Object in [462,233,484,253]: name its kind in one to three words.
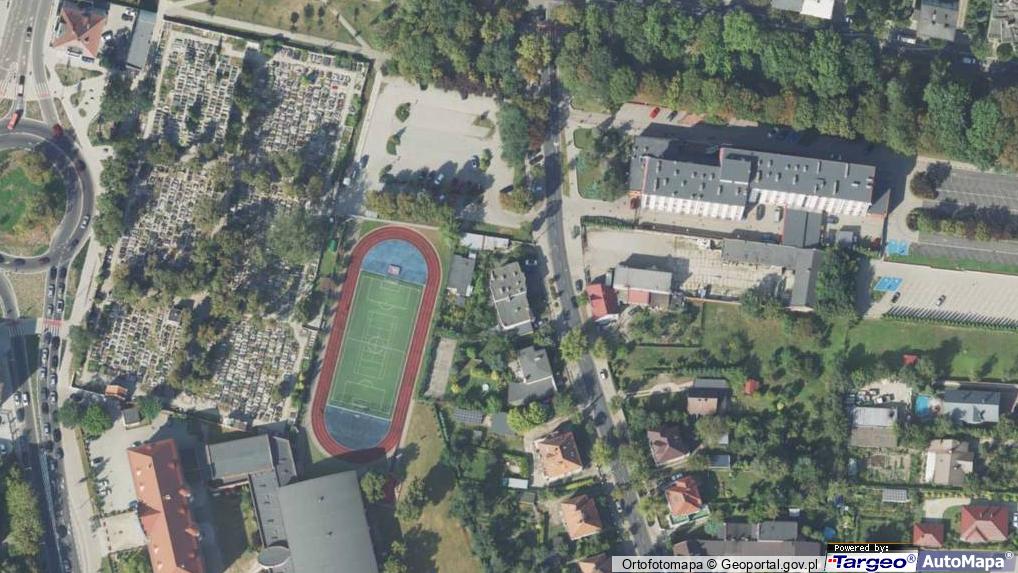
shed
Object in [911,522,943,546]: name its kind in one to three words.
building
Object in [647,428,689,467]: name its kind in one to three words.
house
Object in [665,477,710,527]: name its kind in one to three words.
house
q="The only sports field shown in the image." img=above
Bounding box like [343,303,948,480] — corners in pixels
[328,270,424,422]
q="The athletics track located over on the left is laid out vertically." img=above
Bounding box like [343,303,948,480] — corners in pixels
[311,223,443,465]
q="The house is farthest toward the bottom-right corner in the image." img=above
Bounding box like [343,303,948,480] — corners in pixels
[957,505,1008,545]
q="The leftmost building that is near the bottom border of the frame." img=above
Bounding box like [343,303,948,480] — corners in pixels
[128,438,210,573]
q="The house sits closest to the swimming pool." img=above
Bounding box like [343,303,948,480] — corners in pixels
[940,391,1002,426]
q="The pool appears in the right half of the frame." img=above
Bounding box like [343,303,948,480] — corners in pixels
[915,393,941,417]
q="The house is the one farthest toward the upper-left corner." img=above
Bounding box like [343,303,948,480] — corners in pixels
[53,9,109,62]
